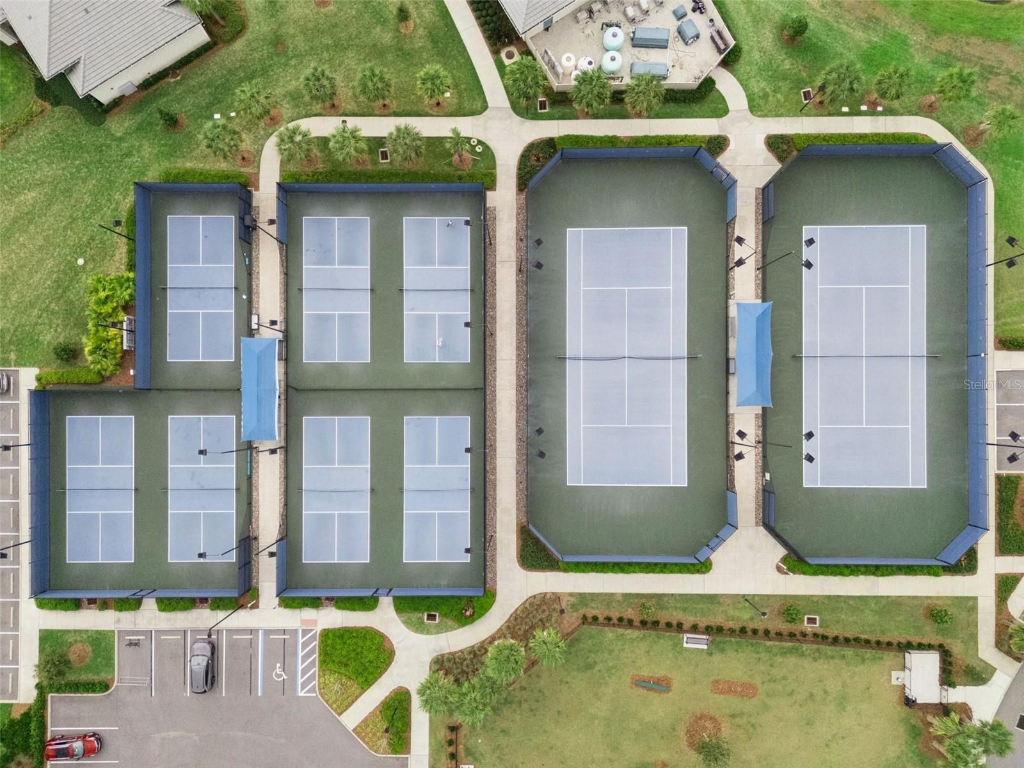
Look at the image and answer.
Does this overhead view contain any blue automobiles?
No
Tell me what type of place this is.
sports ground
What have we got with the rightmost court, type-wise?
tennis court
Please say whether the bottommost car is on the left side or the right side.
left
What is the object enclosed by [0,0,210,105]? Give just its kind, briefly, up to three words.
building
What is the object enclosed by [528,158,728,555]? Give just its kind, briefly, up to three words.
tennis court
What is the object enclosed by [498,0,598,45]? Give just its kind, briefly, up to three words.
building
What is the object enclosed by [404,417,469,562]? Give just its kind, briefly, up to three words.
sports court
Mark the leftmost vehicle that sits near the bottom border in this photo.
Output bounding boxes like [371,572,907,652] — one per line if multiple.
[44,730,104,762]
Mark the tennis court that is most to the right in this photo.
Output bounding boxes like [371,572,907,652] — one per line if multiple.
[763,155,968,559]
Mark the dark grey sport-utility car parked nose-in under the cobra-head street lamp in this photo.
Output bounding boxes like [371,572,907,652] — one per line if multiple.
[188,638,218,694]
